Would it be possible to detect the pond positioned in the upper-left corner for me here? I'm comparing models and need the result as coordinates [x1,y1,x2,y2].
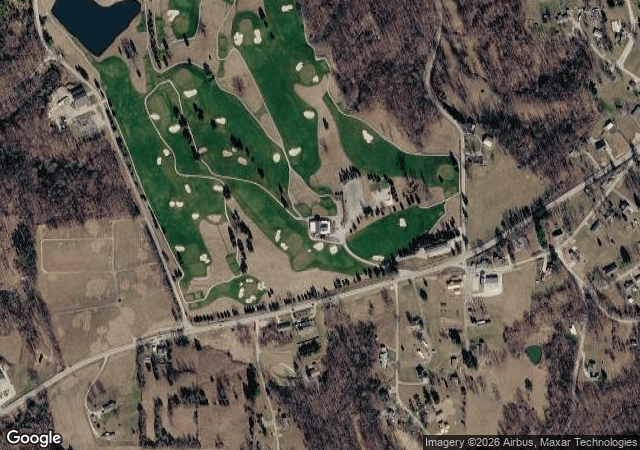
[51,0,141,55]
